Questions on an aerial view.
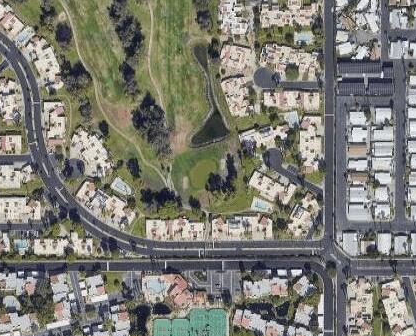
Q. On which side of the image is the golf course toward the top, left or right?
left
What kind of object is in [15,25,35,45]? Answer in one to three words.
swimming pool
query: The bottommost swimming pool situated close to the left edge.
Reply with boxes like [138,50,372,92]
[3,294,18,309]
